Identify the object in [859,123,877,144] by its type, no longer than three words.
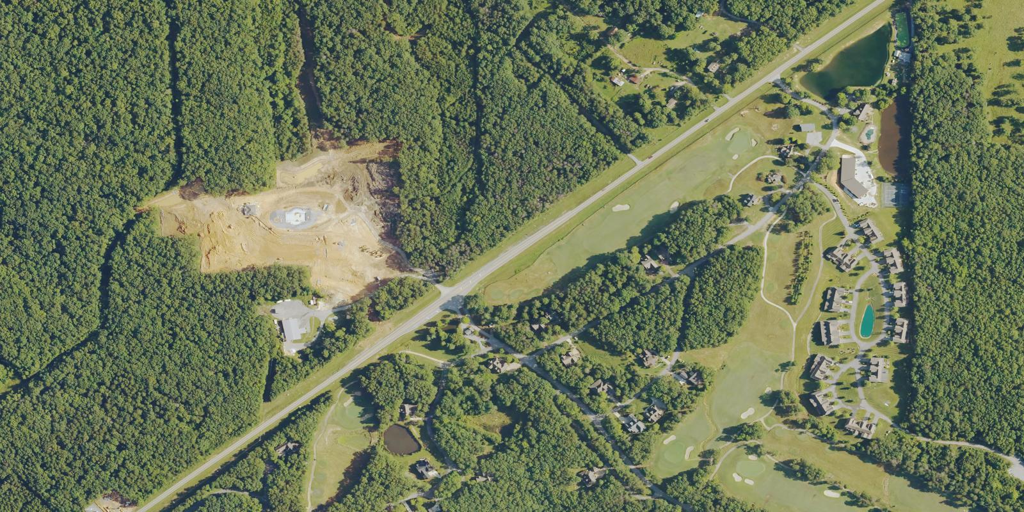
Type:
swimming pool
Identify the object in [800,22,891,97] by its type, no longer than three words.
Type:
pond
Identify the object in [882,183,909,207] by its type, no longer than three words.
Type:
sports court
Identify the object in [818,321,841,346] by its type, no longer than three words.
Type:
house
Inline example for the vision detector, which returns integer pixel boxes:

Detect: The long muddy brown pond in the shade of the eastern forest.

[879,101,911,175]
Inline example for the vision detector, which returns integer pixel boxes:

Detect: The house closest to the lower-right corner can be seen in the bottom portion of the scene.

[847,415,875,437]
